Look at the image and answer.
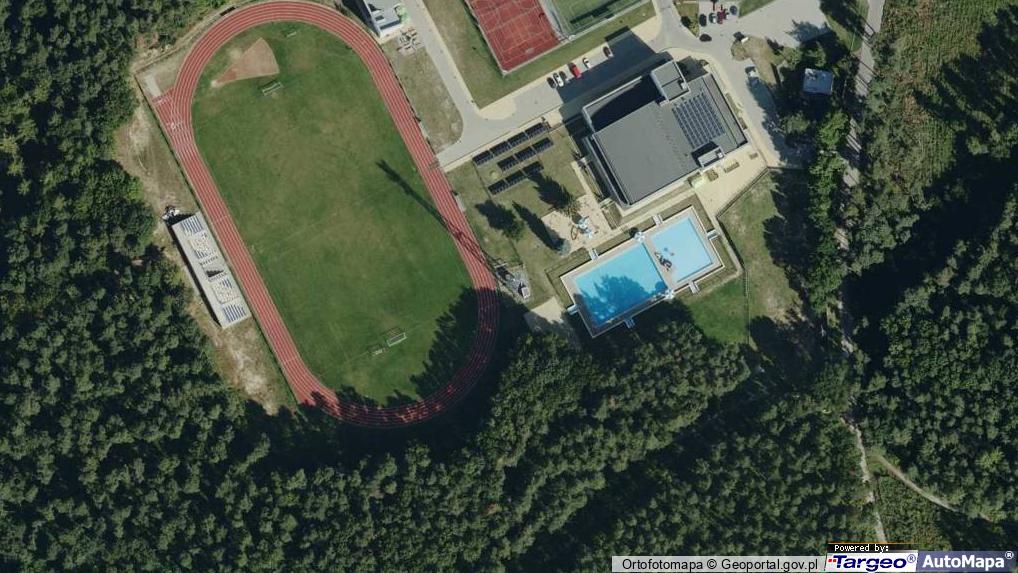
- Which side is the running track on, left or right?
left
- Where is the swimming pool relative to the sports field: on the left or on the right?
to its right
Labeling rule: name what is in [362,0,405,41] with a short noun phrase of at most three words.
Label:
building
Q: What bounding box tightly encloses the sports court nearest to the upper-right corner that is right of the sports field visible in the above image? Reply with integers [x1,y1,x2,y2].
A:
[548,0,640,38]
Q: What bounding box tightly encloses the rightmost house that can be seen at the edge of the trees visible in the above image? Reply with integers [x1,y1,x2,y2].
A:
[803,69,834,95]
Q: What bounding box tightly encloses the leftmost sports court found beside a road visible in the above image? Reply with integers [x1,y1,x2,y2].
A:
[466,0,563,75]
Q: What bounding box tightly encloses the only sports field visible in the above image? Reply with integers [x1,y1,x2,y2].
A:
[193,23,474,406]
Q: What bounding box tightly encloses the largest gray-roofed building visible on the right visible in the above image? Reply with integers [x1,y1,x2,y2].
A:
[582,59,748,209]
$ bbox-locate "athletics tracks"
[150,0,498,429]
